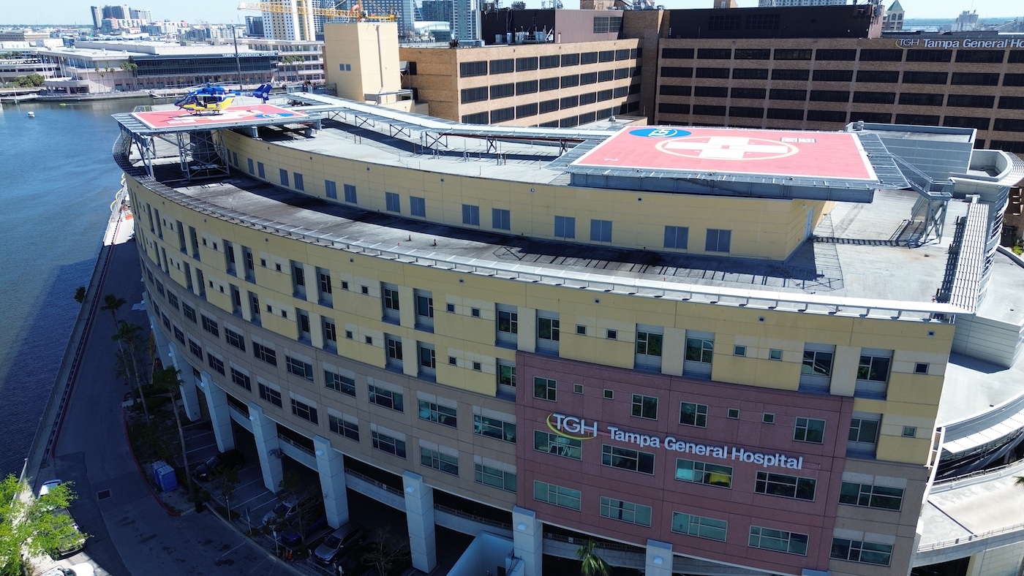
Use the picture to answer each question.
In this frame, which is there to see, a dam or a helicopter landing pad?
helicopter landing pad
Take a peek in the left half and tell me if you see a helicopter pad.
Yes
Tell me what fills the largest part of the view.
buildings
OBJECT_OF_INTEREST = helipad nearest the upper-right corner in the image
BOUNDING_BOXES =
[545,124,912,205]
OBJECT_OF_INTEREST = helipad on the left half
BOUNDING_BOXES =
[113,103,328,184]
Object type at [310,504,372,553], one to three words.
car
